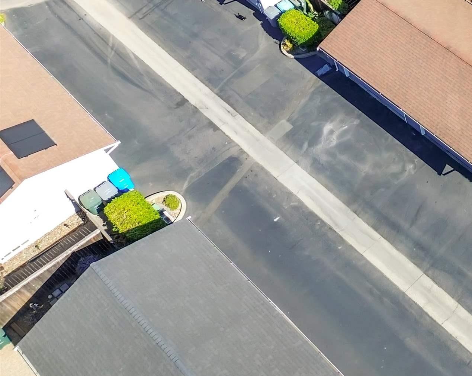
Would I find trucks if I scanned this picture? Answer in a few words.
No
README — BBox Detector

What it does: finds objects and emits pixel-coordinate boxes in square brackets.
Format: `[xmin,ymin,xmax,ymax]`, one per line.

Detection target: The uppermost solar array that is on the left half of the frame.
[0,114,55,155]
